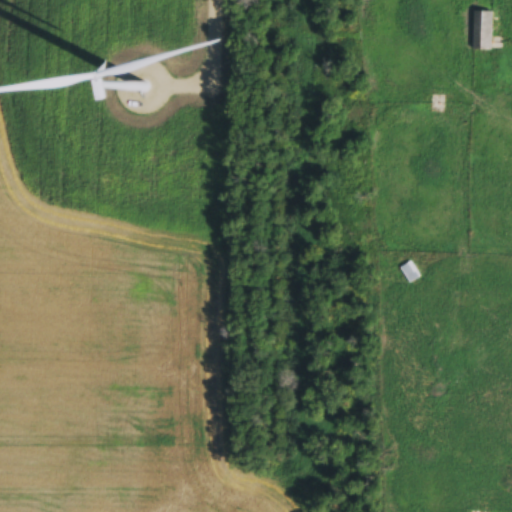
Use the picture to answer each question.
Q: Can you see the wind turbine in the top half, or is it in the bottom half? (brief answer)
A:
top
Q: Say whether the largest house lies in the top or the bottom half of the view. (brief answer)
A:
top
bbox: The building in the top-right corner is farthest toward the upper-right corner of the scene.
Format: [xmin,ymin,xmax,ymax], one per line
[472,10,494,50]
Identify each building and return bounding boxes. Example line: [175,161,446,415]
[400,260,421,283]
[472,10,494,50]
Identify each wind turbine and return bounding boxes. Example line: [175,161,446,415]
[0,35,220,102]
